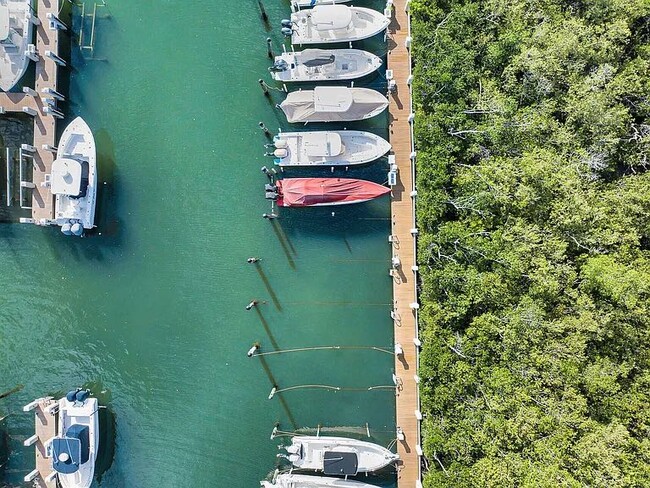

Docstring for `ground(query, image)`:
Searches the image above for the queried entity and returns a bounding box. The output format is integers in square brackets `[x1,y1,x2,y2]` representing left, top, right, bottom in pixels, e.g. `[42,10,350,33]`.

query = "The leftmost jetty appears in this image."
[0,92,36,121]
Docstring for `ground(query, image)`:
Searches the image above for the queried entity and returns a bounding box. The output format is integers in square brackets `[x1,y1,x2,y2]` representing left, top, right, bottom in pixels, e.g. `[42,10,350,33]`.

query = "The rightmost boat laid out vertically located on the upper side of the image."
[40,117,101,237]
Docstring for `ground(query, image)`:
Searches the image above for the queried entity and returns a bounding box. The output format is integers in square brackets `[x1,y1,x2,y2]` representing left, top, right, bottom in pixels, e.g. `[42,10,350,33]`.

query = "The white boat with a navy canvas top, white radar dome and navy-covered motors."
[52,384,106,488]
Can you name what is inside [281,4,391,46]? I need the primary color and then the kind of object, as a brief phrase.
white boat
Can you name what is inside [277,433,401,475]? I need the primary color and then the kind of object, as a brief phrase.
white boat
